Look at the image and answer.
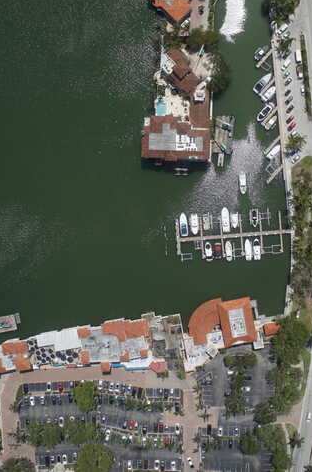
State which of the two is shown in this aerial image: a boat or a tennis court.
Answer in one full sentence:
The one in the frame is a boat.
